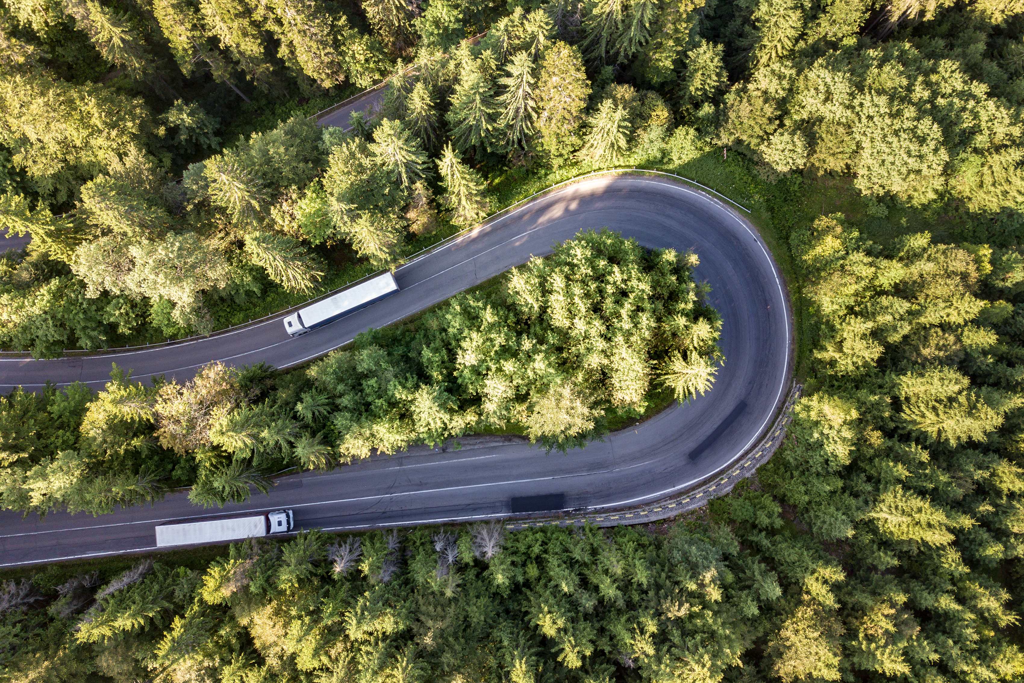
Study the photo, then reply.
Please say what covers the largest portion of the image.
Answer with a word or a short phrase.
trees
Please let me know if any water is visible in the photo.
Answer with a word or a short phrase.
No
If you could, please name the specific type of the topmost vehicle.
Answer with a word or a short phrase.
truck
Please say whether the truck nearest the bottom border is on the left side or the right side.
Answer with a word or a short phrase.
left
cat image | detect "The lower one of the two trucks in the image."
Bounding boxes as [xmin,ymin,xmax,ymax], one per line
[153,507,304,548]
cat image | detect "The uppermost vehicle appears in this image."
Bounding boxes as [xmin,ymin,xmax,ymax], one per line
[281,272,402,341]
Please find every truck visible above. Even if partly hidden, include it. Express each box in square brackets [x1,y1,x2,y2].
[281,272,402,341]
[153,507,304,548]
